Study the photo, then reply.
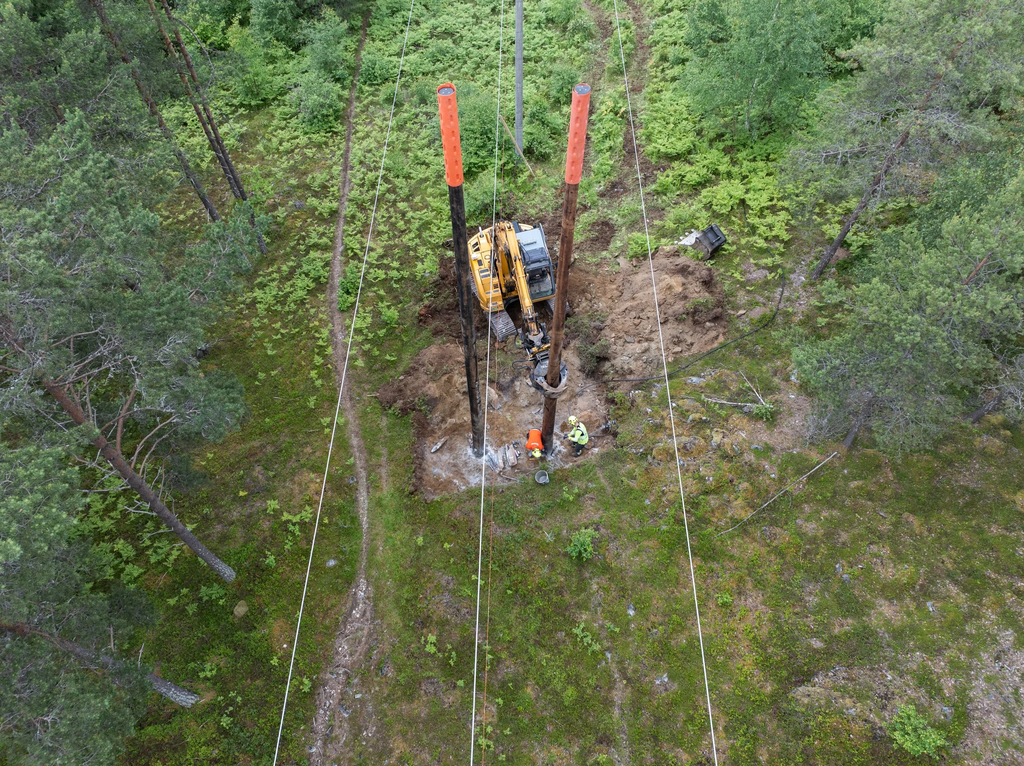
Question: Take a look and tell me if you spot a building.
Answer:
No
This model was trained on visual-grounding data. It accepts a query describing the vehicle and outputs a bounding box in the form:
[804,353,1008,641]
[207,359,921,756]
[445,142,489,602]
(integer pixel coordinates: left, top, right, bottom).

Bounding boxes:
[469,211,572,397]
